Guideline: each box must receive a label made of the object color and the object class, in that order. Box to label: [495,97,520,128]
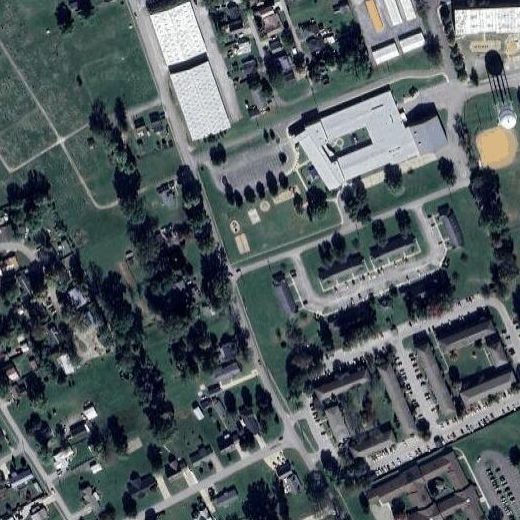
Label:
white water tower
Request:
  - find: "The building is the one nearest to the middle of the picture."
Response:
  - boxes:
[273,278,297,312]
